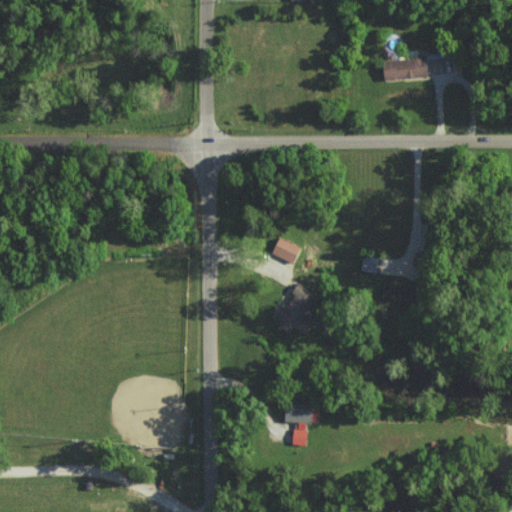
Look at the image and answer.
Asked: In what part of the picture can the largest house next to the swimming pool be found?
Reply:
top right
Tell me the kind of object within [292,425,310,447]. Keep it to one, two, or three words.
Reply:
building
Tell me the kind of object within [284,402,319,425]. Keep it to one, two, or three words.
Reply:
house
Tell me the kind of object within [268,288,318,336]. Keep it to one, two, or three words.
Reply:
house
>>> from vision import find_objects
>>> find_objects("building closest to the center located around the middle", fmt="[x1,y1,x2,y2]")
[272,236,302,264]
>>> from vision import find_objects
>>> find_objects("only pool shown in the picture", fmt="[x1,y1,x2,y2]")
[384,37,400,60]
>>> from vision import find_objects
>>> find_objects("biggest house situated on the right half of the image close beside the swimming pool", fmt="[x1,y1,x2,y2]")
[384,58,429,84]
